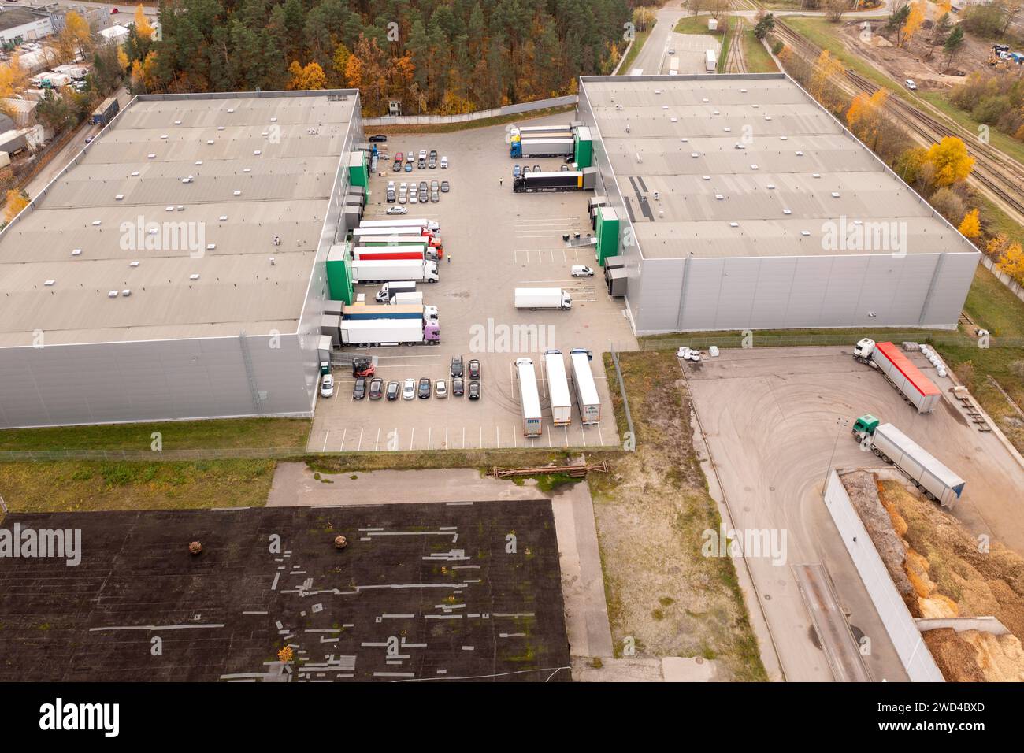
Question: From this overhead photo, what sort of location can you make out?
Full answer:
What you see here is an industrial area.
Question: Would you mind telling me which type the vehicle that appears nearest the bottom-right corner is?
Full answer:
From above, the vehicle that appears nearest the bottom-right corner can be identified as a truck.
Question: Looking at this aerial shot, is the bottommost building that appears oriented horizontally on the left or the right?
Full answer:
The bottommost building that appears oriented horizontally appears in the left half of the scene.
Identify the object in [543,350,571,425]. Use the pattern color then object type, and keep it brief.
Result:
white truck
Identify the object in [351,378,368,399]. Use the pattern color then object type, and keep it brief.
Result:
gray car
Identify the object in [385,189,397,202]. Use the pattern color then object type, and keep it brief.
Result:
gray vehicle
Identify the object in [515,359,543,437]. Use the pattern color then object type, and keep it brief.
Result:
white truck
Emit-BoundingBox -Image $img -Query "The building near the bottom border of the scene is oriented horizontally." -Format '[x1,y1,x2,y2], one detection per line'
[0,499,580,753]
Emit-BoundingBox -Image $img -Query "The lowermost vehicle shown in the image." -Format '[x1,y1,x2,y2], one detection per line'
[856,421,966,509]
